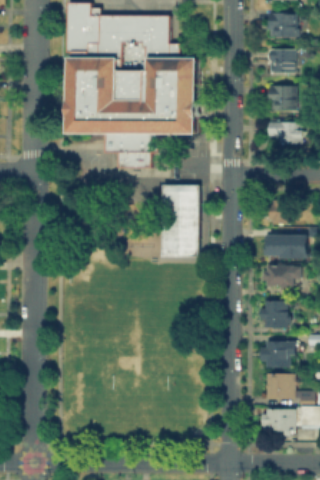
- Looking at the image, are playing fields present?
Yes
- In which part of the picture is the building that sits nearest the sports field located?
center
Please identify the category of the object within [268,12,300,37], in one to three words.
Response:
house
